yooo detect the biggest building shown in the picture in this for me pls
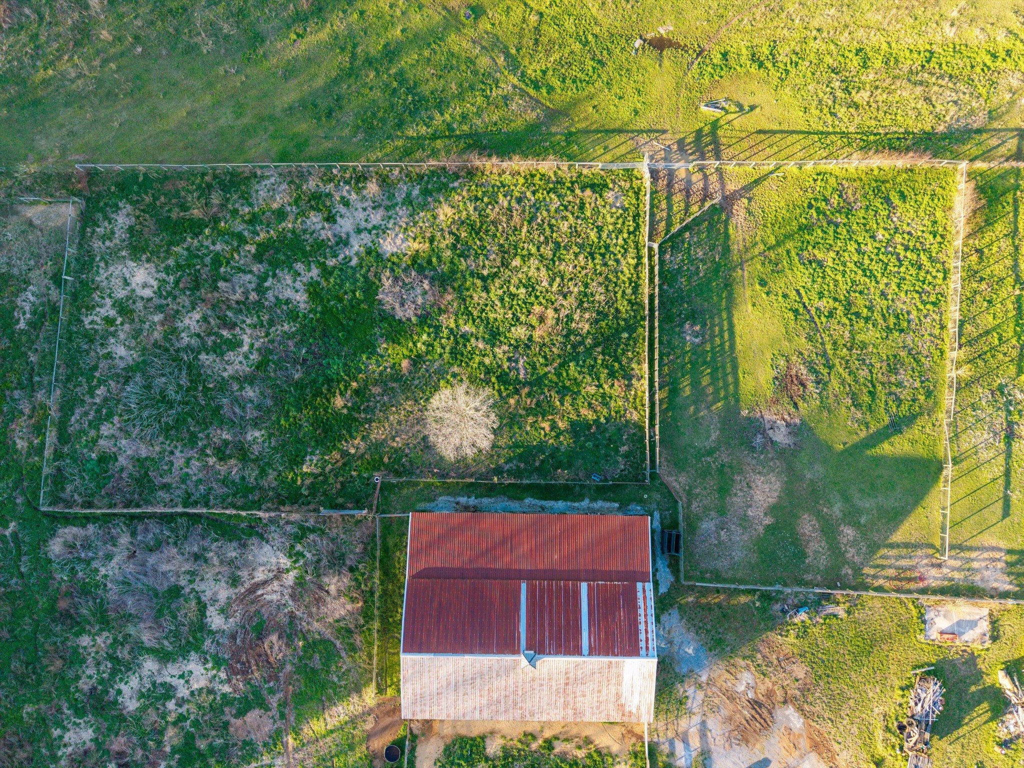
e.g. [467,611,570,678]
[398,512,658,721]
